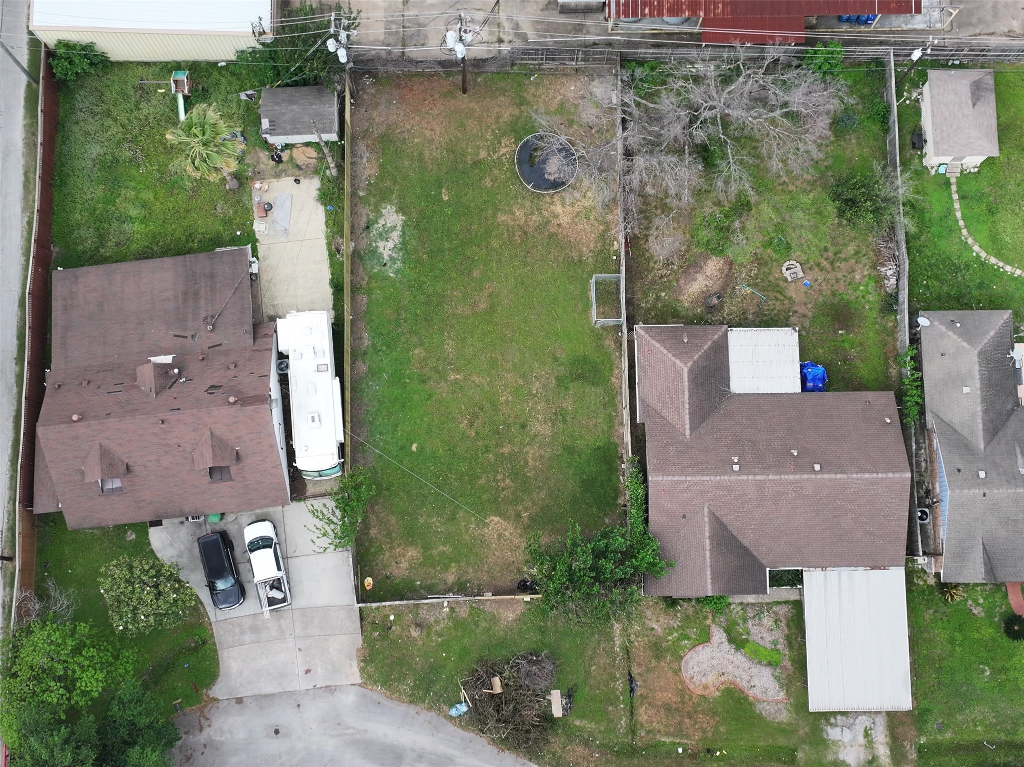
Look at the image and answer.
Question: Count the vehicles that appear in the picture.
3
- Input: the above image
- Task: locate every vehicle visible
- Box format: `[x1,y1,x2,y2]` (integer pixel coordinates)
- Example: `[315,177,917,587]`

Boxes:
[200,531,246,613]
[245,516,293,615]
[281,313,350,483]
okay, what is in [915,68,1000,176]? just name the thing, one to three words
shed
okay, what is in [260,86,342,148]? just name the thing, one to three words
shed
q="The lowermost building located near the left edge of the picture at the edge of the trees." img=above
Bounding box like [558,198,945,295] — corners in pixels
[34,247,293,530]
